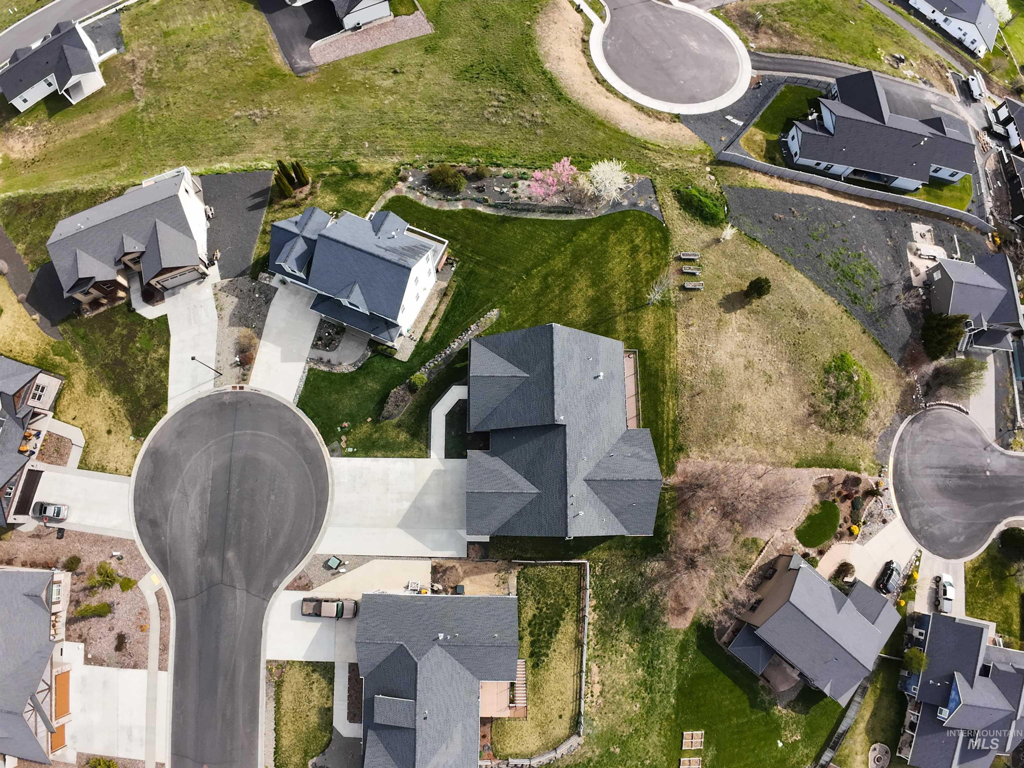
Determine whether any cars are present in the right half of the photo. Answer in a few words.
Yes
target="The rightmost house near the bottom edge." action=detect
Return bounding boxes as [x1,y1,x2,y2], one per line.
[894,612,1024,768]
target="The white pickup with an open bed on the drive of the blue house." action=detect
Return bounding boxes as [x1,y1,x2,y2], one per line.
[936,574,958,615]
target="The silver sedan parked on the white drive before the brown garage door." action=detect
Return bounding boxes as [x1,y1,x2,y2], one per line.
[26,504,67,522]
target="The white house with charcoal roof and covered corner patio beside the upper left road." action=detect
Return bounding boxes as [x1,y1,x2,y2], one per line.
[0,15,107,111]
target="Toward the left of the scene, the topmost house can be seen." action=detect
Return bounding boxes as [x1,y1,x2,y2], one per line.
[336,0,394,30]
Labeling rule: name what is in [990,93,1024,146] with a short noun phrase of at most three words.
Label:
house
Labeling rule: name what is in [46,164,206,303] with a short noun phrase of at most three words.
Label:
house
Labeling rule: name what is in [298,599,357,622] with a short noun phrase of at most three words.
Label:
truck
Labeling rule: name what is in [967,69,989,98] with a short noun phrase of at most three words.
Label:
vehicle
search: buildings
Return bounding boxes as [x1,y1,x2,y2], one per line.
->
[336,0,394,30]
[0,15,107,111]
[0,570,78,767]
[467,326,660,542]
[990,93,1024,146]
[792,66,983,190]
[0,353,65,529]
[46,164,206,303]
[894,612,1024,768]
[922,254,1021,352]
[268,202,448,349]
[355,592,527,768]
[722,563,905,709]
[994,154,1024,212]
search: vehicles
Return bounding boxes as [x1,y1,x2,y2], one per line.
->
[967,69,989,98]
[298,599,357,622]
[26,504,67,522]
[877,558,902,596]
[936,574,958,615]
